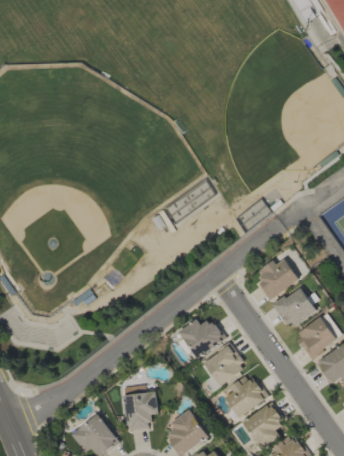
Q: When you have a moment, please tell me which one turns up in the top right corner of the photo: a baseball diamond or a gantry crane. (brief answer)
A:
baseball diamond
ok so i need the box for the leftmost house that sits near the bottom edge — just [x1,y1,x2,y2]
[74,414,116,456]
